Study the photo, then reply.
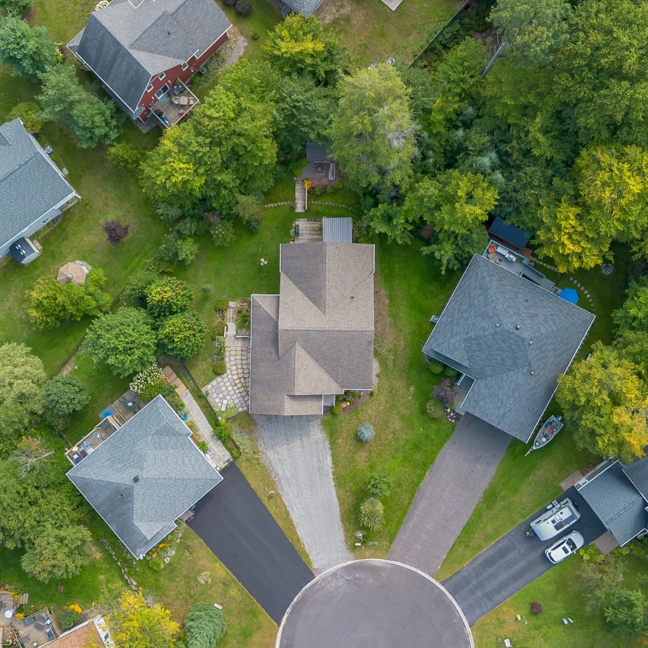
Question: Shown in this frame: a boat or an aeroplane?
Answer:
boat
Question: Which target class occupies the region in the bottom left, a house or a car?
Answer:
house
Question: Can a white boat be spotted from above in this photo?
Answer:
No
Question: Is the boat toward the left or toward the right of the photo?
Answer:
right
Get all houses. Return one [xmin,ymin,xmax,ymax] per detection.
[421,252,596,444]
[32,611,122,648]
[66,0,233,124]
[249,242,375,416]
[283,0,325,20]
[0,117,81,258]
[65,393,224,561]
[574,430,648,547]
